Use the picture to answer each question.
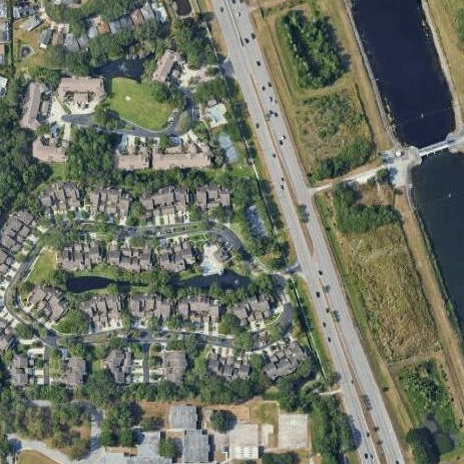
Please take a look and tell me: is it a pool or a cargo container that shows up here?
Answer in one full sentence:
This aerial view contains a pool.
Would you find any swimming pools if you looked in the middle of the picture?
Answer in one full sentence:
Yes, a swimming pool appears in the middle of the picture.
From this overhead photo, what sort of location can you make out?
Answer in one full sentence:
The picture captures a residential area.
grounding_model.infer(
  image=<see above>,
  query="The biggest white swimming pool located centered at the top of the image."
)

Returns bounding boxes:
[202,102,231,128]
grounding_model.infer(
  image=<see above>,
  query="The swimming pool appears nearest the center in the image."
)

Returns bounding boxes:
[200,248,223,274]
